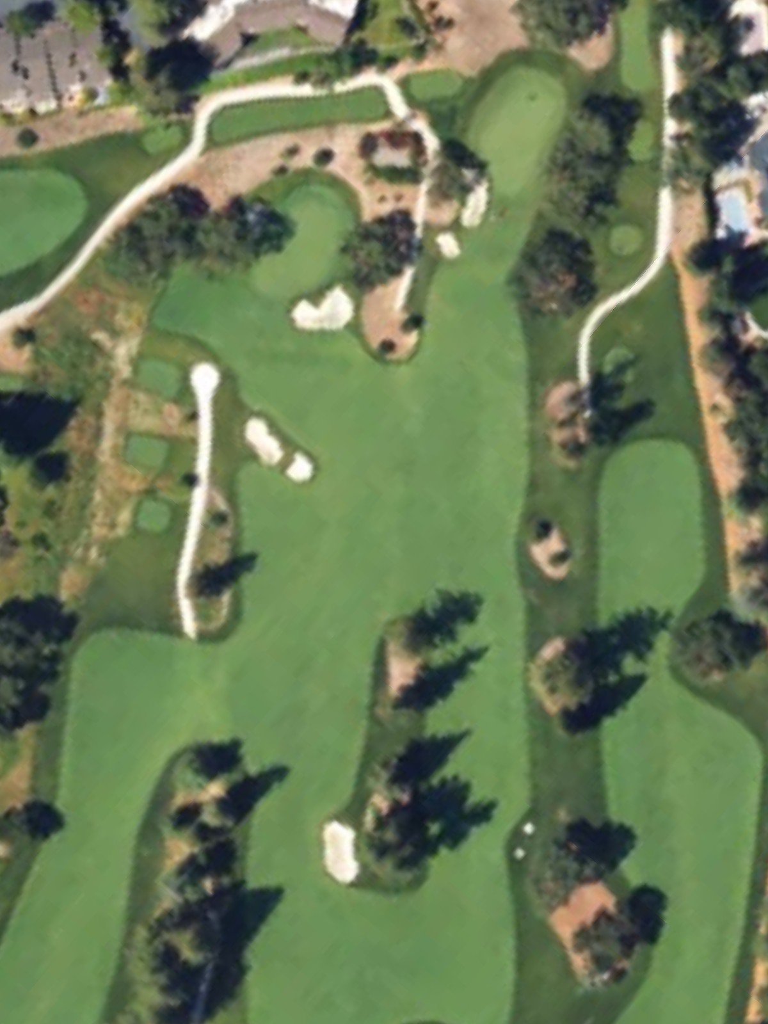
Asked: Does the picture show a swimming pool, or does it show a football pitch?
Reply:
swimming pool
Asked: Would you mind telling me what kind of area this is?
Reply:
golf course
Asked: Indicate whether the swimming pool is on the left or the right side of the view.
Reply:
right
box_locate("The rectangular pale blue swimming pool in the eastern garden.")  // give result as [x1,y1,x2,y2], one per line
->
[727,190,753,234]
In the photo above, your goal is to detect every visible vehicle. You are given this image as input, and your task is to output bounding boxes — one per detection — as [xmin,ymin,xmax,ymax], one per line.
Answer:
[524,823,532,834]
[515,848,524,859]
